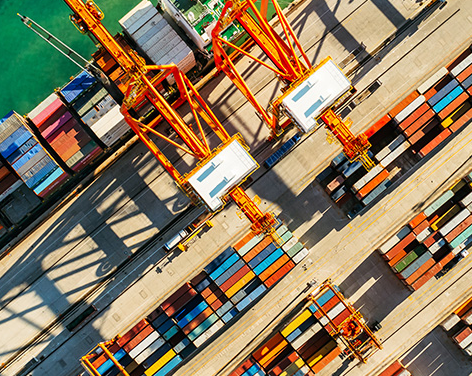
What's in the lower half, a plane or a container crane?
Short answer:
container crane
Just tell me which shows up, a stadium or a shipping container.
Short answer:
shipping container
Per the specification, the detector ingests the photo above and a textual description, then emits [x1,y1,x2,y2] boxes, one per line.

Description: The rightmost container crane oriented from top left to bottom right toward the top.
[207,0,374,169]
